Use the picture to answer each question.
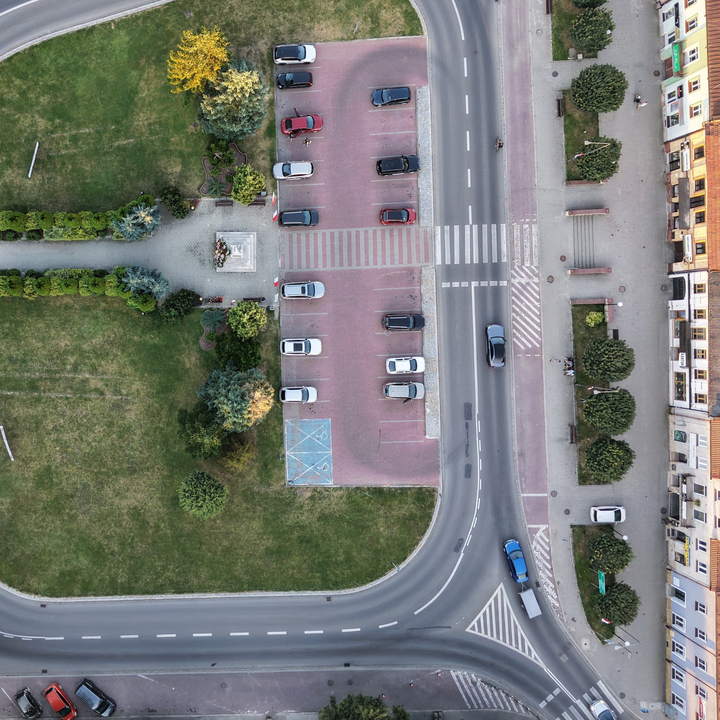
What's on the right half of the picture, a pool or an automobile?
automobile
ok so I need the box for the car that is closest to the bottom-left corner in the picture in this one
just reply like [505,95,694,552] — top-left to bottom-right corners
[15,684,44,720]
